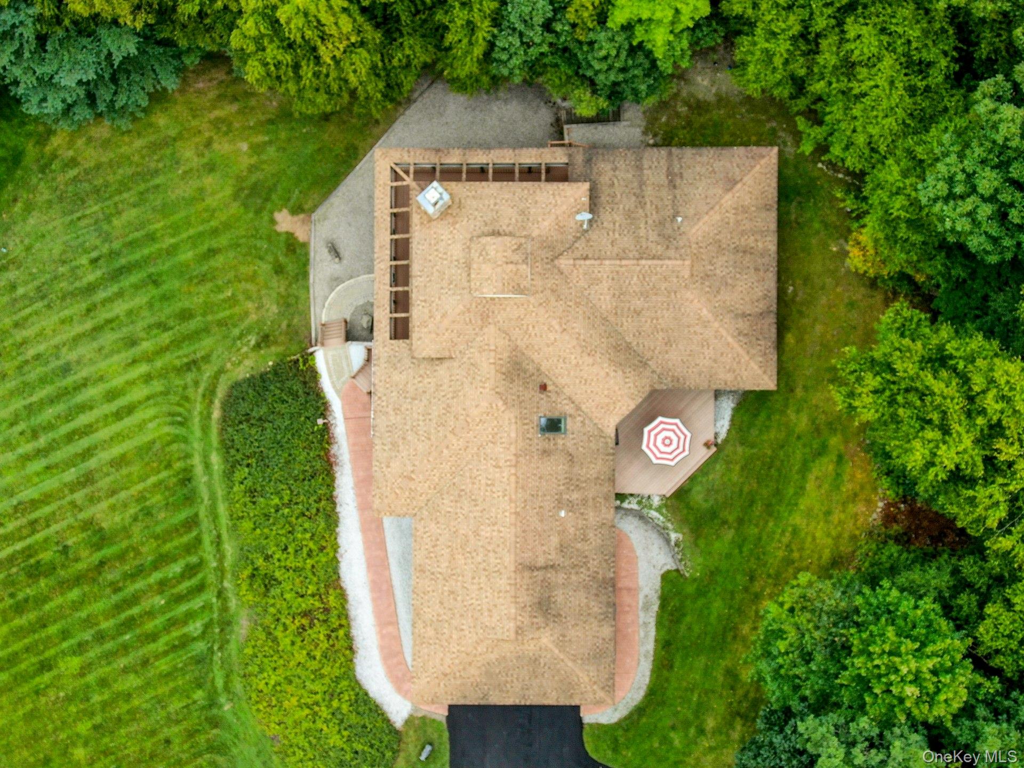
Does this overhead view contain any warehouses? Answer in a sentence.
No, I can see no warehouse in this picture.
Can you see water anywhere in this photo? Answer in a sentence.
No, no water is visible.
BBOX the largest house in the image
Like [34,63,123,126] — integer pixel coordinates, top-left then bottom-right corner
[372,146,779,705]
